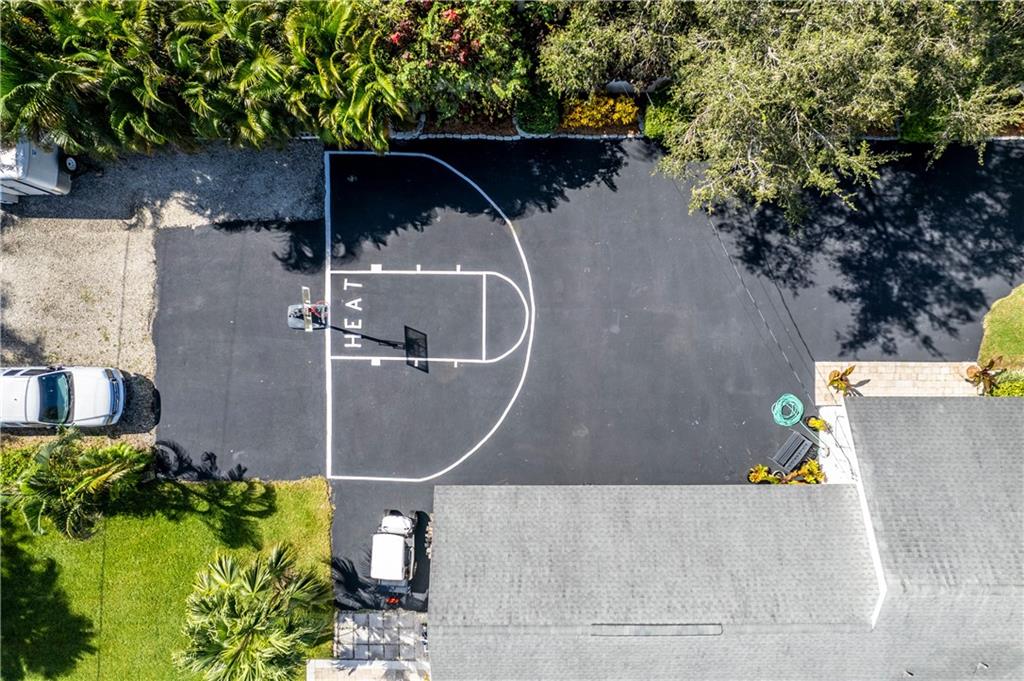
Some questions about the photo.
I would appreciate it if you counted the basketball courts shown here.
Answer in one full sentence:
In total, there is 1 basketball court in the scene.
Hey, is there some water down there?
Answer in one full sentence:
No, water can't be seen anywhere here.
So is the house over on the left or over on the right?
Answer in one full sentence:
You can find the house on the right side of the picture.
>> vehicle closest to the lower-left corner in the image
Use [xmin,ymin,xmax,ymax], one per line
[0,362,126,432]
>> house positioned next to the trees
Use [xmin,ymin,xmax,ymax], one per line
[426,397,1024,681]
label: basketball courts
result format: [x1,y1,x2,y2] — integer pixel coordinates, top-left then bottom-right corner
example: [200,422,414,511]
[325,150,535,481]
